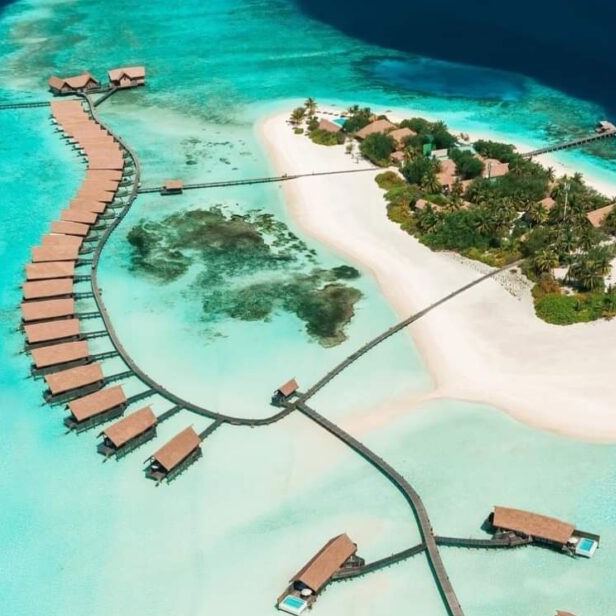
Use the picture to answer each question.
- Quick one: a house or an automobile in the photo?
house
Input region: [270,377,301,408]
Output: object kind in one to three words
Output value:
building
